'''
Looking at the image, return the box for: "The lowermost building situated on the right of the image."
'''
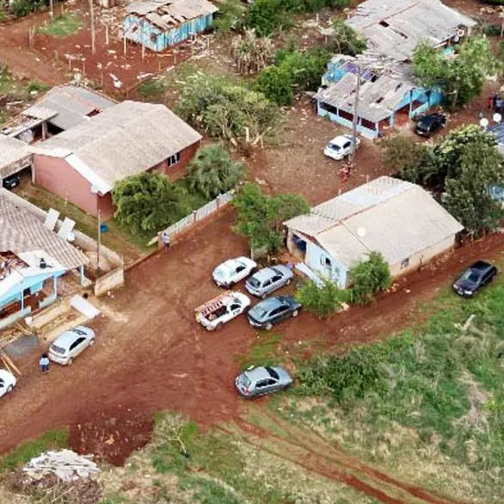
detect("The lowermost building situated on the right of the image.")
[288,182,459,291]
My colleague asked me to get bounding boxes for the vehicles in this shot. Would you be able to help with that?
[4,169,30,192]
[321,129,365,159]
[243,263,298,298]
[208,253,263,288]
[230,362,297,399]
[0,367,20,395]
[42,324,102,366]
[192,288,254,328]
[242,294,308,330]
[451,257,504,297]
